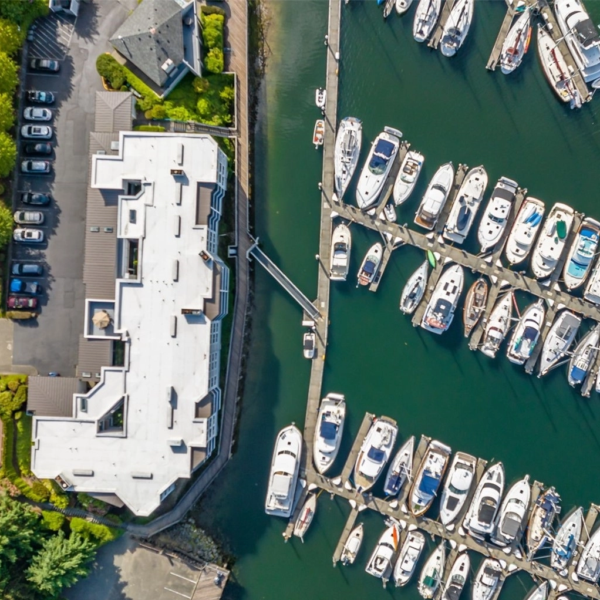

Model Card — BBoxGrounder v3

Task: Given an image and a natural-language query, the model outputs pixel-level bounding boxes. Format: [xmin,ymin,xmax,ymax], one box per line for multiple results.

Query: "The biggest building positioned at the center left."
[31,131,230,515]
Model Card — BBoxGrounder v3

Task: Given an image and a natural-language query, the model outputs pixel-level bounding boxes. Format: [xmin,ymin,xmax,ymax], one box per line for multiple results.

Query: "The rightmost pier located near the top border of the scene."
[541,1,592,104]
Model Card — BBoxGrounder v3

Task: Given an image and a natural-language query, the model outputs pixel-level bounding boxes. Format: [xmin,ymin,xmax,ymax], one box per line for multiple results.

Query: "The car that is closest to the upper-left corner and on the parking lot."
[30,57,61,73]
